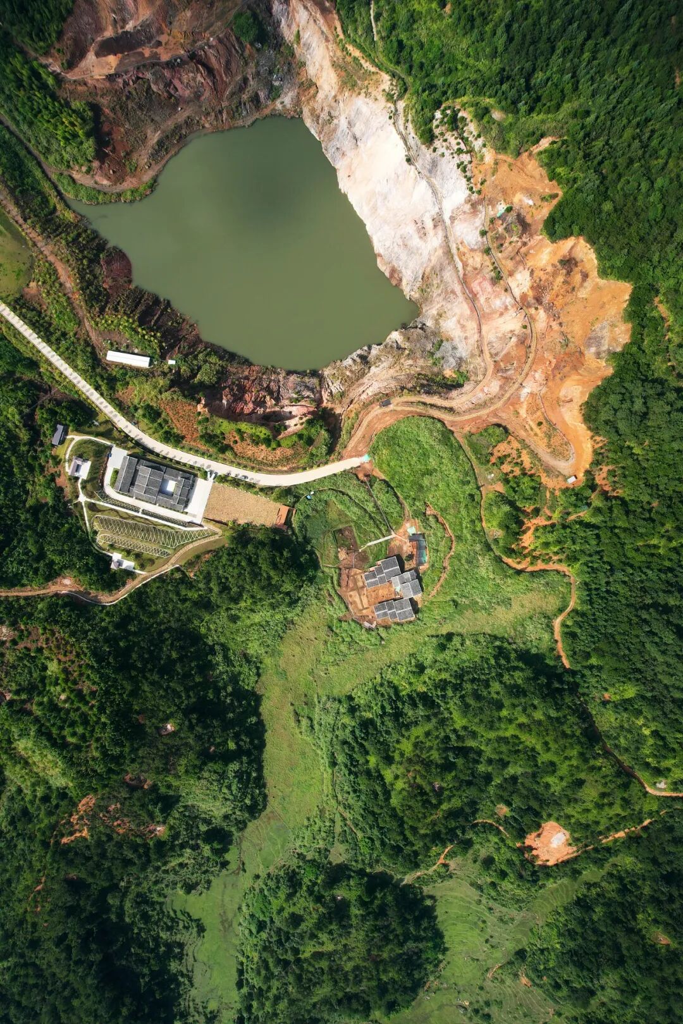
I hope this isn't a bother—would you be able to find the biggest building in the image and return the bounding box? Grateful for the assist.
[114,456,193,510]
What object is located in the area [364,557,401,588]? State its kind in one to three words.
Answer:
house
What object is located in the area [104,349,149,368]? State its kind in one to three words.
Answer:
shed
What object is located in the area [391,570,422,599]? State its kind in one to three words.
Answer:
house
